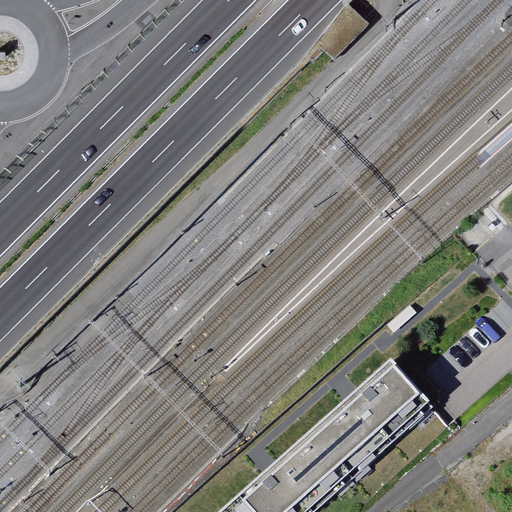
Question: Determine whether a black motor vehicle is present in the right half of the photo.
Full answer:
Yes, the scene does show a black motor vehicle in the right half of the photo.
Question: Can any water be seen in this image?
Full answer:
No, water can't be seen anywhere here.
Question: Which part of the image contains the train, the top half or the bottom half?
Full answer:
It is in the top half that the train appears.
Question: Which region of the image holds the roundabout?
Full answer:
The roundabout is in the top left part of the image.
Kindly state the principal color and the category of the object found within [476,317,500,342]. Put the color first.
blue vehicle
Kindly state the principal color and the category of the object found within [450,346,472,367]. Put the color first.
black car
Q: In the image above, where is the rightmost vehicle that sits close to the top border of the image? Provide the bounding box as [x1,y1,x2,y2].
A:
[289,16,310,37]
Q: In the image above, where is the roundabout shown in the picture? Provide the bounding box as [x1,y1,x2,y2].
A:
[0,0,72,126]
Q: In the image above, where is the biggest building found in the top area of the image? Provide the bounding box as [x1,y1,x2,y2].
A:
[318,4,368,59]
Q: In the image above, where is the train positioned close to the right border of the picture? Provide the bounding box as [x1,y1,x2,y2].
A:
[478,123,512,163]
